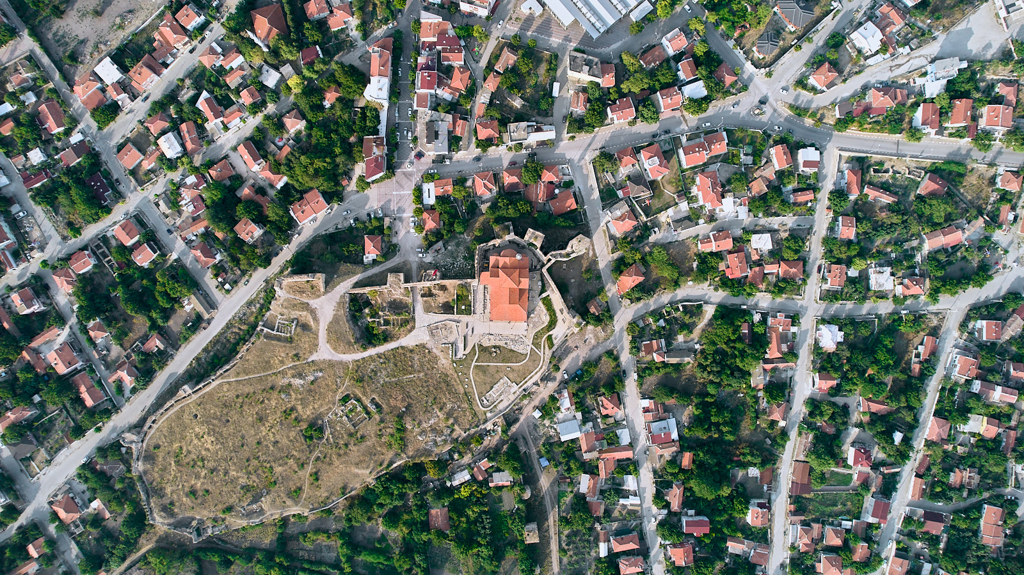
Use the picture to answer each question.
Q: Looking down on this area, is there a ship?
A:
No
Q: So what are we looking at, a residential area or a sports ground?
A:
residential area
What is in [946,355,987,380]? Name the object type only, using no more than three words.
building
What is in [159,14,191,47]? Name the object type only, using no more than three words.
house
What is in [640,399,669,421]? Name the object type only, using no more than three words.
shed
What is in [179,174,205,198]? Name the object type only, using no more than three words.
house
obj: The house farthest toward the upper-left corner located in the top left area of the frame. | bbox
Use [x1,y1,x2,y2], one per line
[9,59,30,87]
